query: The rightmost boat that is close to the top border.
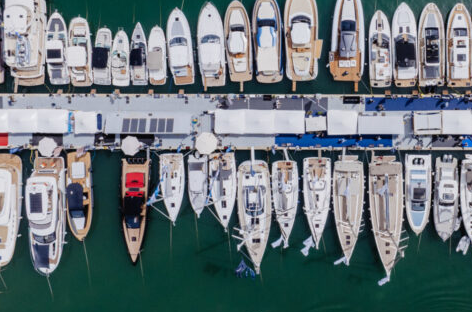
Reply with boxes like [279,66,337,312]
[441,0,472,99]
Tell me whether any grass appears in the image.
No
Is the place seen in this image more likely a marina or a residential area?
marina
